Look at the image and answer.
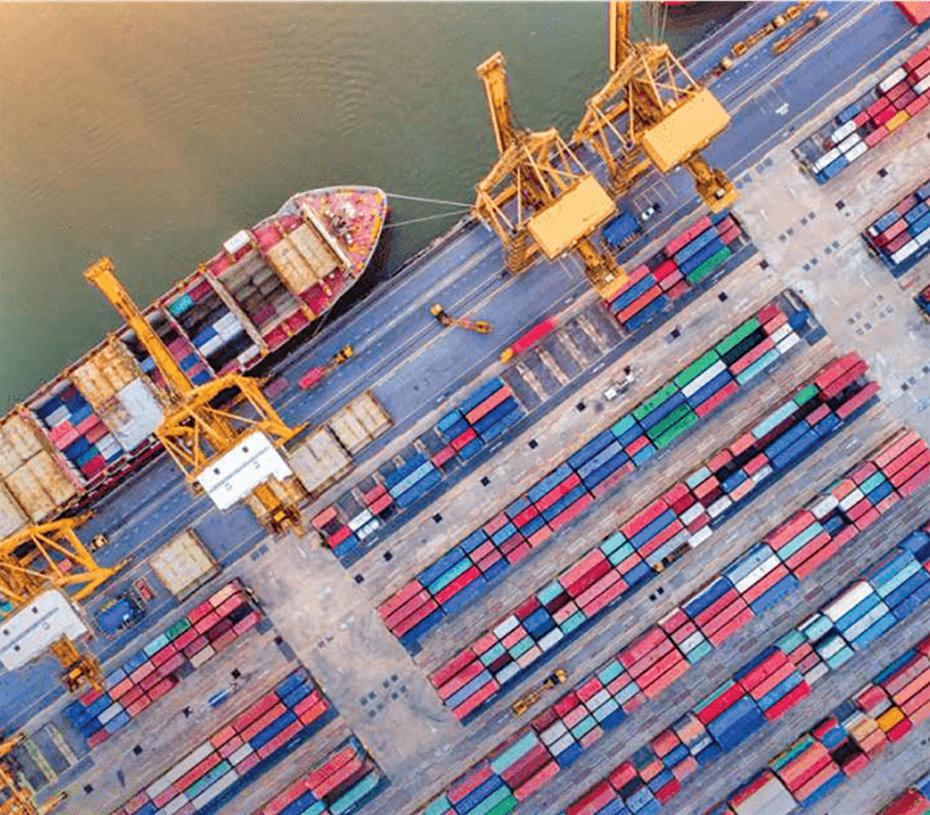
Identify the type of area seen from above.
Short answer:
port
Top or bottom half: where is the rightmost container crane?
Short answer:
top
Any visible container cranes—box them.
[465,38,635,300]
[81,259,308,543]
[0,734,62,815]
[569,0,744,215]
[0,512,125,696]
